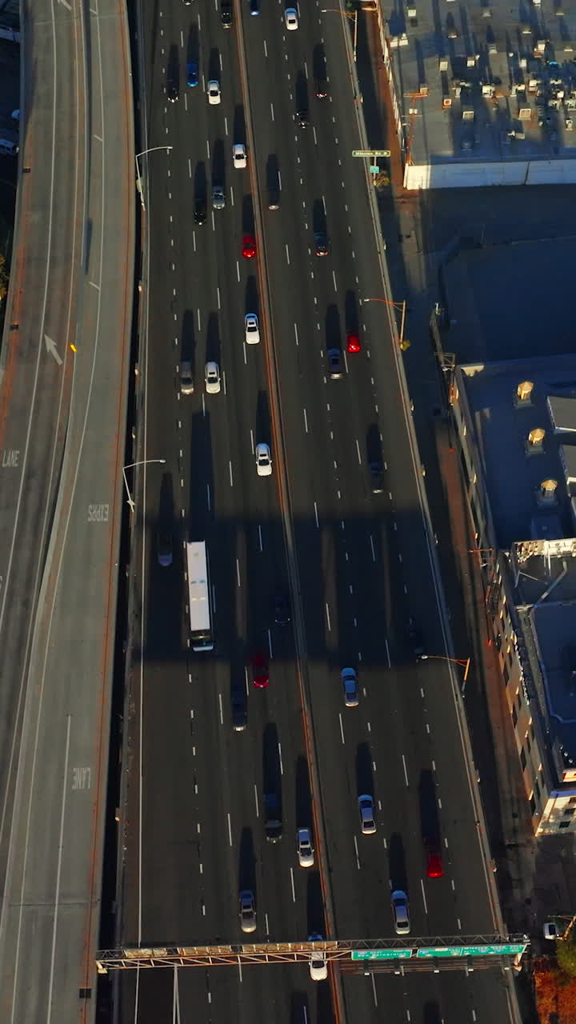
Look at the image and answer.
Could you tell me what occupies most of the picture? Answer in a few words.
paved ground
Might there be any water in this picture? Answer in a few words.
No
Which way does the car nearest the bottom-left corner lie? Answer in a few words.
up and down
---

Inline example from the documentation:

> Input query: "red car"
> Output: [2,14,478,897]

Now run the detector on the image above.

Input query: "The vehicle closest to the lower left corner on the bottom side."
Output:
[238,889,259,935]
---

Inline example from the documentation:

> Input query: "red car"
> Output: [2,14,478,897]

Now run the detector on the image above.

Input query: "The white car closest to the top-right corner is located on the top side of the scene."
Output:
[284,11,298,29]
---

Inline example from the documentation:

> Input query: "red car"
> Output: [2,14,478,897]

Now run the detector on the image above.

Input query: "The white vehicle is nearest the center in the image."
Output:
[256,444,273,476]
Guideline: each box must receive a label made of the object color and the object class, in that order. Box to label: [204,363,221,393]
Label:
white car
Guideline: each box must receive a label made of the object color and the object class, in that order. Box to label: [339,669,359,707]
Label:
blue car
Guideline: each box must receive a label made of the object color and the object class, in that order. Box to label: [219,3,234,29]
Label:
black vehicle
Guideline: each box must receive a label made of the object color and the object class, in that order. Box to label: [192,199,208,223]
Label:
black car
